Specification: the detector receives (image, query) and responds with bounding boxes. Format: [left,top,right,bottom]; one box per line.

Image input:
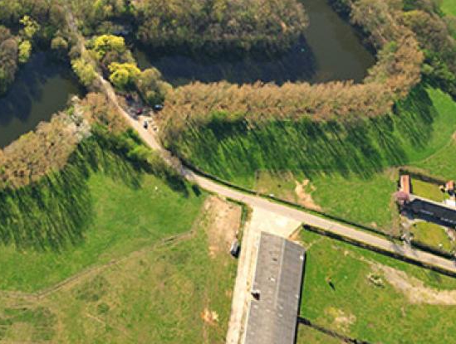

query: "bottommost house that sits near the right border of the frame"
[409,196,456,238]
